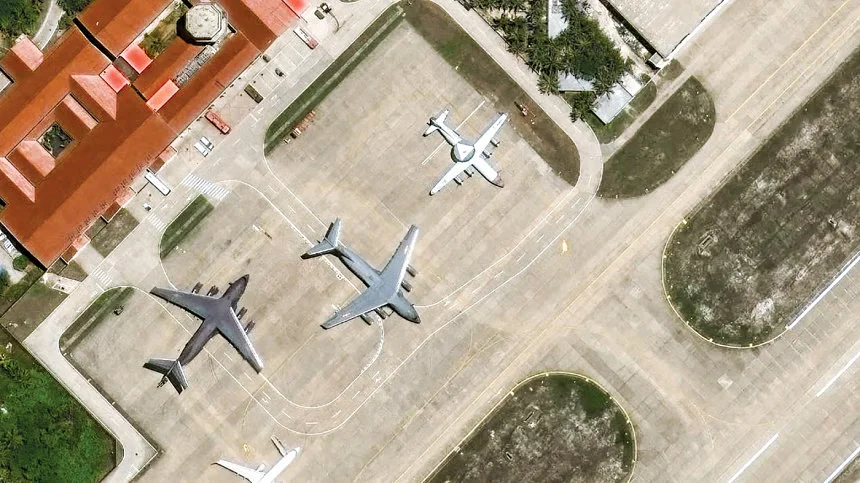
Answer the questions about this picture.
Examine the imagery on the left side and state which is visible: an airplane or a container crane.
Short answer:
airplane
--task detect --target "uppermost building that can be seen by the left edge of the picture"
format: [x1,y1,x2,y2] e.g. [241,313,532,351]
[0,0,317,270]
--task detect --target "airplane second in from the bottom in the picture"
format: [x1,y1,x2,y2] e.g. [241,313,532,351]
[149,274,262,391]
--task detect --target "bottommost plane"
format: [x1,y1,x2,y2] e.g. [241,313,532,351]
[214,447,300,483]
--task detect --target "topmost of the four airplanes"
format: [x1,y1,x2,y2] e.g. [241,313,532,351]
[421,108,506,196]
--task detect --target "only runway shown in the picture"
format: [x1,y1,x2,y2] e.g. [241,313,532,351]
[632,260,860,483]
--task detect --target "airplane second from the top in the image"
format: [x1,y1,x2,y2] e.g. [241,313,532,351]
[304,215,421,328]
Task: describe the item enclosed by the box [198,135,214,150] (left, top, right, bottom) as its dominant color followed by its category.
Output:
white vehicle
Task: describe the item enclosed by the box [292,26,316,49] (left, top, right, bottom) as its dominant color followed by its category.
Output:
white bus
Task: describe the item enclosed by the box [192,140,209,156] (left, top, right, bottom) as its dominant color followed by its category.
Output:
white vehicle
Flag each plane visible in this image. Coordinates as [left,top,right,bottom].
[149,274,262,391]
[304,215,421,328]
[214,447,300,483]
[421,108,506,196]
